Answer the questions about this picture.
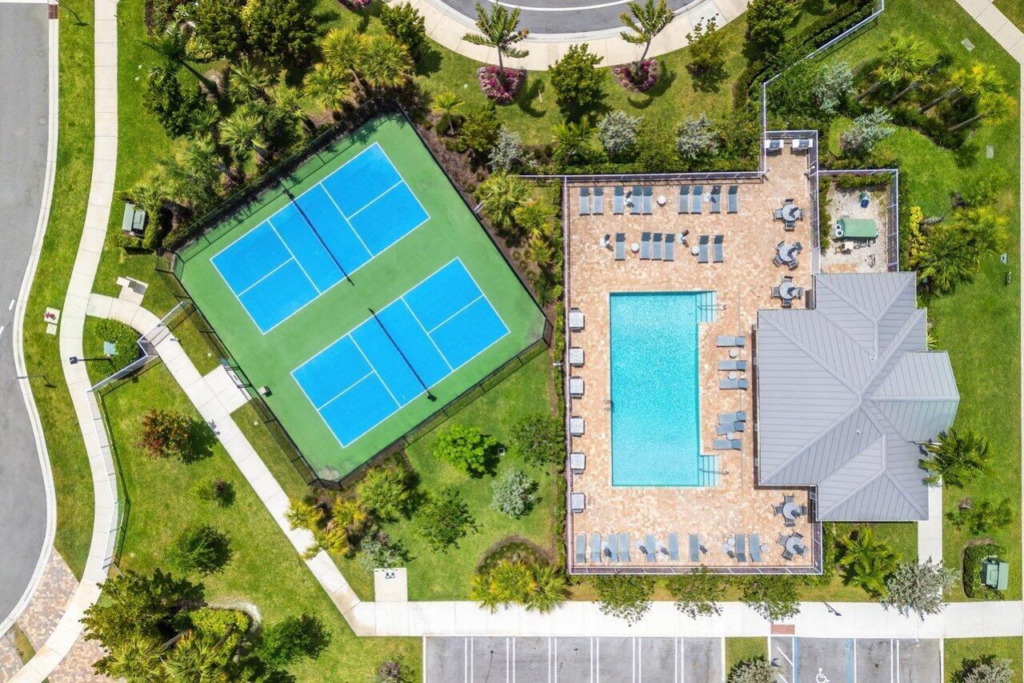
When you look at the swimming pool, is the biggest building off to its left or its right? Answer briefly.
on the right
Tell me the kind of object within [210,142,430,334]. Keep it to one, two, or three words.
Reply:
sports court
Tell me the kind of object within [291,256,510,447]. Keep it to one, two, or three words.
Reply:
sports court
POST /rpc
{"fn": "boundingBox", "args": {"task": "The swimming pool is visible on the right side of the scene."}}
[601,288,726,490]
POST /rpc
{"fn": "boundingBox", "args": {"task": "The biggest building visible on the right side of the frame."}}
[753,271,959,523]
